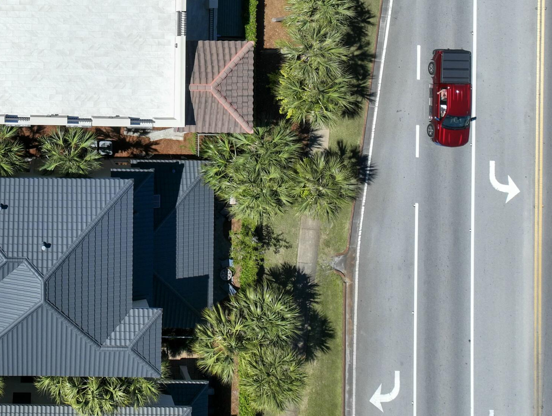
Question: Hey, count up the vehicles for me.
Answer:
1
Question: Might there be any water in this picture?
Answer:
No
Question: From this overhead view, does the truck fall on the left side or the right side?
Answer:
right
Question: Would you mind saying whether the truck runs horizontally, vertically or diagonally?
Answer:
vertically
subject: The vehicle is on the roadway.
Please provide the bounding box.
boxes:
[425,45,476,147]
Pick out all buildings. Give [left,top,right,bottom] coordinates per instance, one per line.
[0,0,256,133]
[0,158,215,381]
